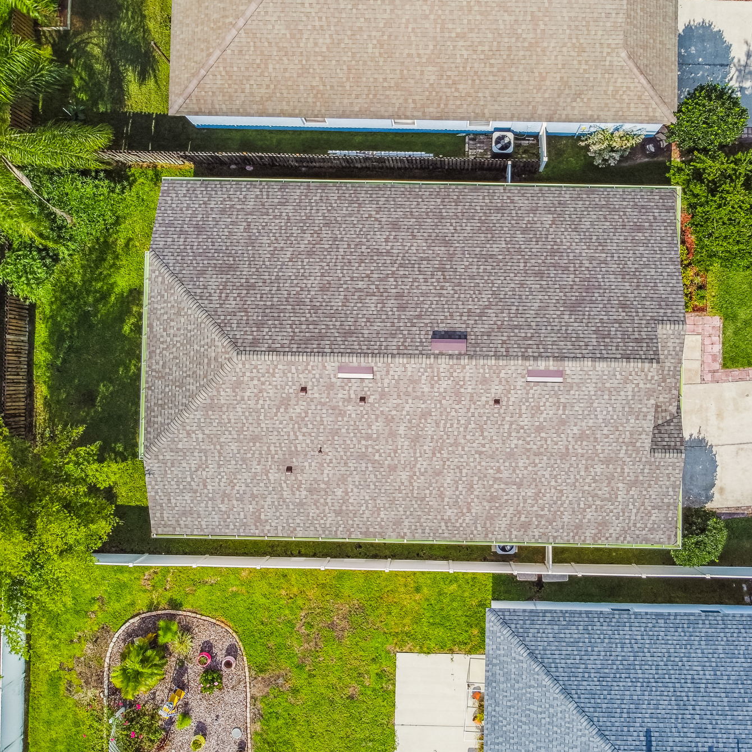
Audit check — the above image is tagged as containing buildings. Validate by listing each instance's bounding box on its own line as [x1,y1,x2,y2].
[483,600,752,752]
[166,0,680,135]
[139,176,686,548]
